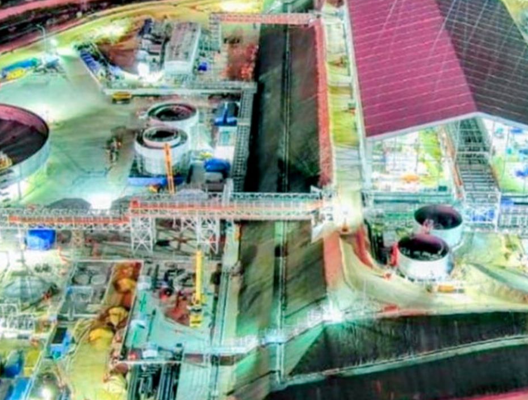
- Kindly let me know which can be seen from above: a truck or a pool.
truck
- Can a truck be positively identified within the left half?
Yes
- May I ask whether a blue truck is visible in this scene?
Yes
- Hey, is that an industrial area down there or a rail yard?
industrial area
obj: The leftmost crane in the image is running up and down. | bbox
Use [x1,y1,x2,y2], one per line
[152,131,181,207]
